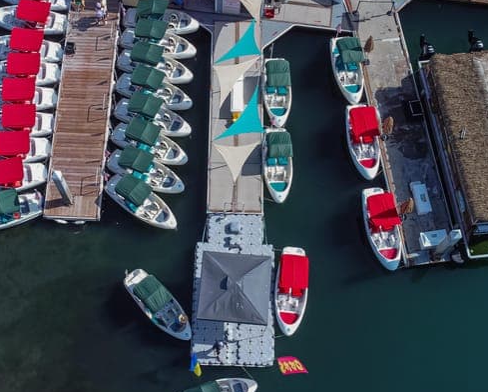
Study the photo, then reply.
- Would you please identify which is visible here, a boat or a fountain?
boat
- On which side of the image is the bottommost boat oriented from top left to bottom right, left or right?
left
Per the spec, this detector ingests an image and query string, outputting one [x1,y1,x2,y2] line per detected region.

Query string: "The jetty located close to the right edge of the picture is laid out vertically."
[352,0,466,271]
